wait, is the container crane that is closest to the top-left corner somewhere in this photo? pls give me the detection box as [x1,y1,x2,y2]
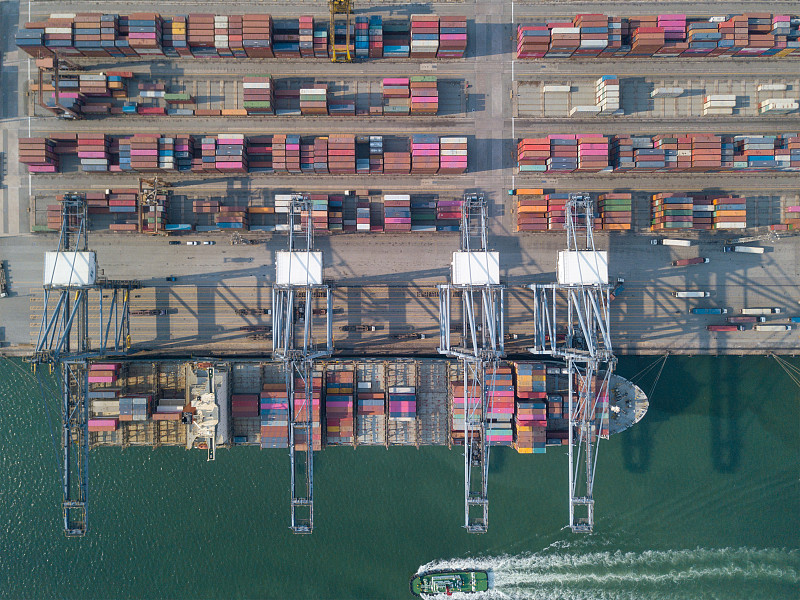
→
[38,43,91,120]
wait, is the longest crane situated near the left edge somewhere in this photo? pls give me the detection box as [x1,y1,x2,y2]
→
[22,189,160,537]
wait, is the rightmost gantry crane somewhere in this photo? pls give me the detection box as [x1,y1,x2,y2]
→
[517,188,619,537]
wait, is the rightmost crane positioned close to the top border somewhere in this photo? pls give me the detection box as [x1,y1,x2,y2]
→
[323,0,354,62]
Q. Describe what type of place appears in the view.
port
